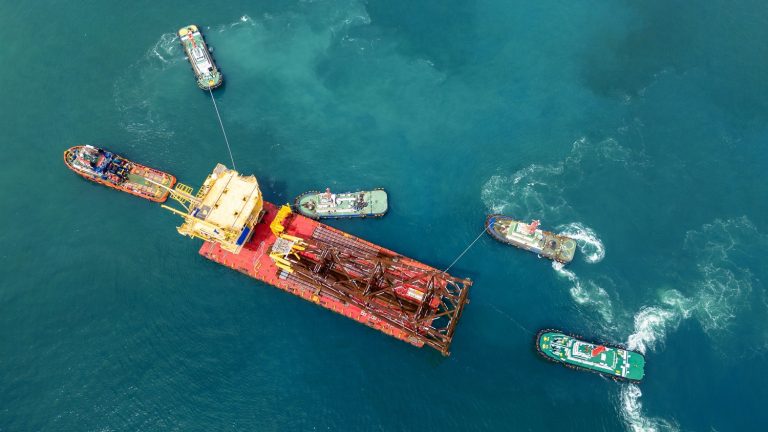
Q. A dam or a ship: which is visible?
ship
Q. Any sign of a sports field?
No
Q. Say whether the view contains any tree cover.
No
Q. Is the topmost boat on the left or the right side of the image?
left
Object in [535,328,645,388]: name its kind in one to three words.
boat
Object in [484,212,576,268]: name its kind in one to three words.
boat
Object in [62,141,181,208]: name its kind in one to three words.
ship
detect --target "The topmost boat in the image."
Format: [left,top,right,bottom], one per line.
[176,23,220,91]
